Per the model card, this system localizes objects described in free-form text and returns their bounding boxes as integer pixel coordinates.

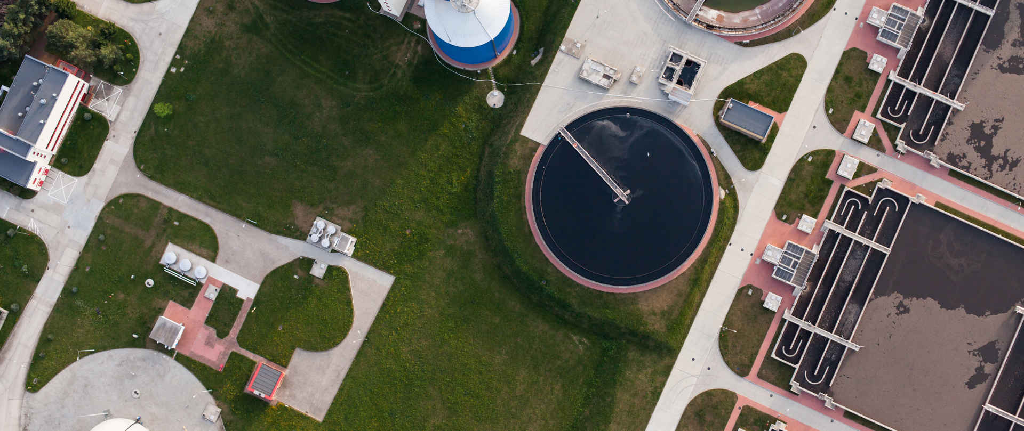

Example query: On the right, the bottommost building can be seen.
[721,98,774,139]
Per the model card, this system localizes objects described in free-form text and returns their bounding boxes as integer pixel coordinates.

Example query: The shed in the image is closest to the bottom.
[248,363,286,401]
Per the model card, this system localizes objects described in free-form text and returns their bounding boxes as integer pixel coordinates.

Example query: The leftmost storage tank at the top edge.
[427,0,514,63]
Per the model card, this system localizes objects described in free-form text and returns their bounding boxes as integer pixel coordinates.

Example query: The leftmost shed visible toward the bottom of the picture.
[150,315,189,350]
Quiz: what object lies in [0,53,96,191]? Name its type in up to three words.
building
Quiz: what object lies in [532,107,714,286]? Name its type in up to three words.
storage tank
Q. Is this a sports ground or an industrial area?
industrial area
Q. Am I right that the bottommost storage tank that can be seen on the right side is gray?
No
